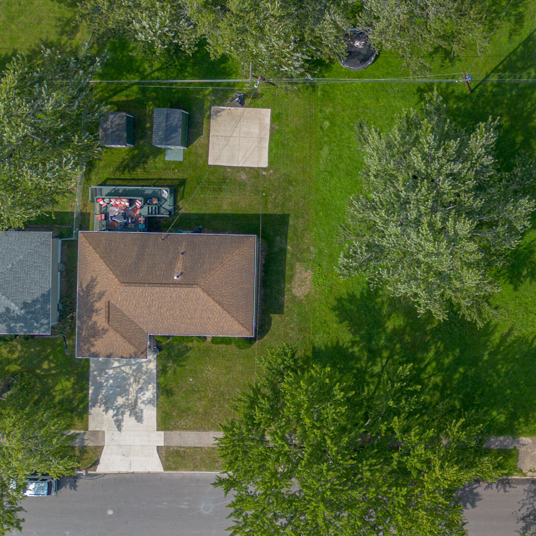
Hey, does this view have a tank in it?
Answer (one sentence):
No, I can't see a single tank in this photo.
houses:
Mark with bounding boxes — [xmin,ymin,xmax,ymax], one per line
[0,231,64,335]
[75,232,261,360]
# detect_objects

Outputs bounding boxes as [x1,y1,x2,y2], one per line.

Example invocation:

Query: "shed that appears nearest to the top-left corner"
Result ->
[100,112,135,146]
